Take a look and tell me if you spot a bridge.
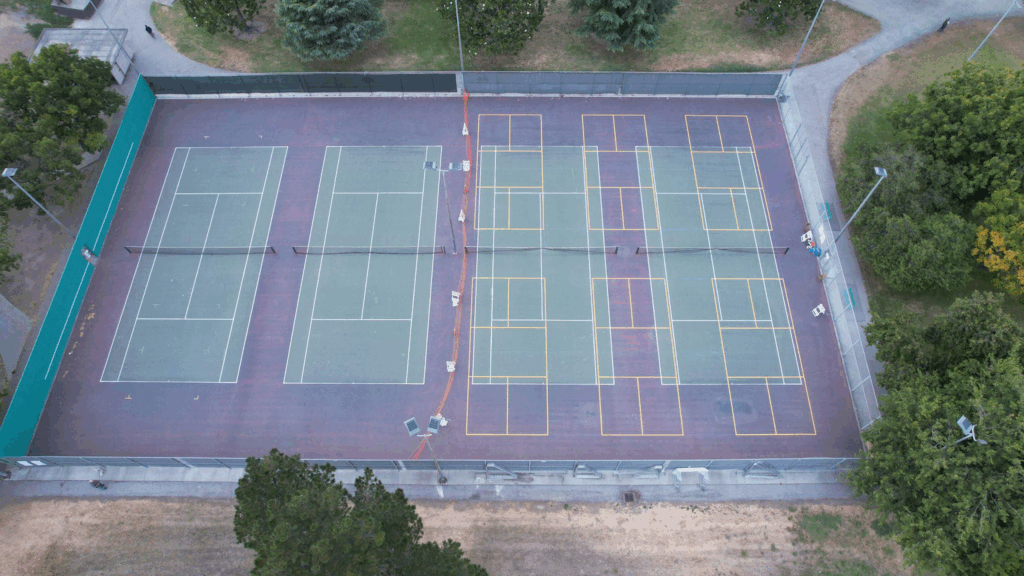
No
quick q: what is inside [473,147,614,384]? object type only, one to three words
tennis court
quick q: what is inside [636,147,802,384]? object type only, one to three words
tennis court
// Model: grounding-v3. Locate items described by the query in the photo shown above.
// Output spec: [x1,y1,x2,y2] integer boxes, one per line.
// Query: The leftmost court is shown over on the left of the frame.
[99,147,289,397]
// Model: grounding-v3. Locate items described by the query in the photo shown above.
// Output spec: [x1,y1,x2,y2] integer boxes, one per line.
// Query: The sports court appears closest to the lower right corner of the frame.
[710,278,817,436]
